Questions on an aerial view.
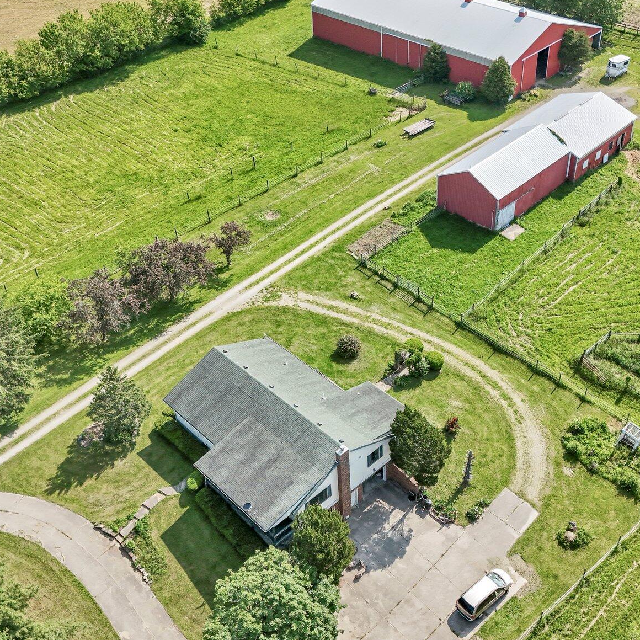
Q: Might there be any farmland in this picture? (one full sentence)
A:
Yes, some farmland is visible.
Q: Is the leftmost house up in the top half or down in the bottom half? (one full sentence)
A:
Seen from above, the leftmost house lies in the bottom half of the view.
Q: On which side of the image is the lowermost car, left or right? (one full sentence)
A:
The lowermost car appears in the right half of the scene.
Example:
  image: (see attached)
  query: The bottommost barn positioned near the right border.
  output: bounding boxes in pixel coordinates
[436,90,640,231]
